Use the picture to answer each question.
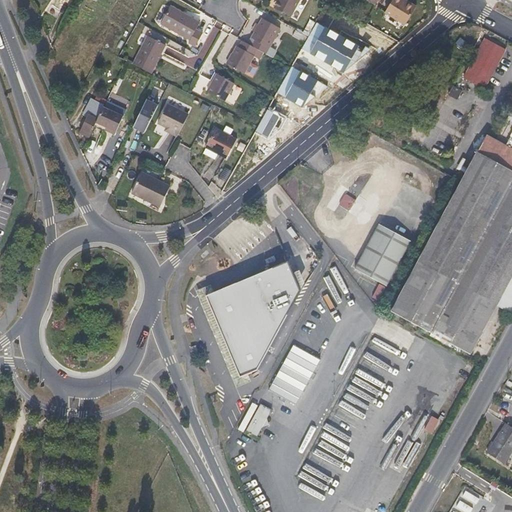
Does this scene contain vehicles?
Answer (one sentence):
Yes, the picture does show a vehicle.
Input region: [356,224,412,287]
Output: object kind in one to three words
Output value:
building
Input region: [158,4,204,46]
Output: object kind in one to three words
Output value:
house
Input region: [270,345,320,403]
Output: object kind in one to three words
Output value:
shed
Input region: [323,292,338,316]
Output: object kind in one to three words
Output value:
vehicle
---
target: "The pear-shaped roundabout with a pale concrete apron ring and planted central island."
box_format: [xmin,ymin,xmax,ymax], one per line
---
[6,201,208,398]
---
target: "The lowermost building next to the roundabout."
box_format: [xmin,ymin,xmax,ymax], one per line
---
[194,263,304,388]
